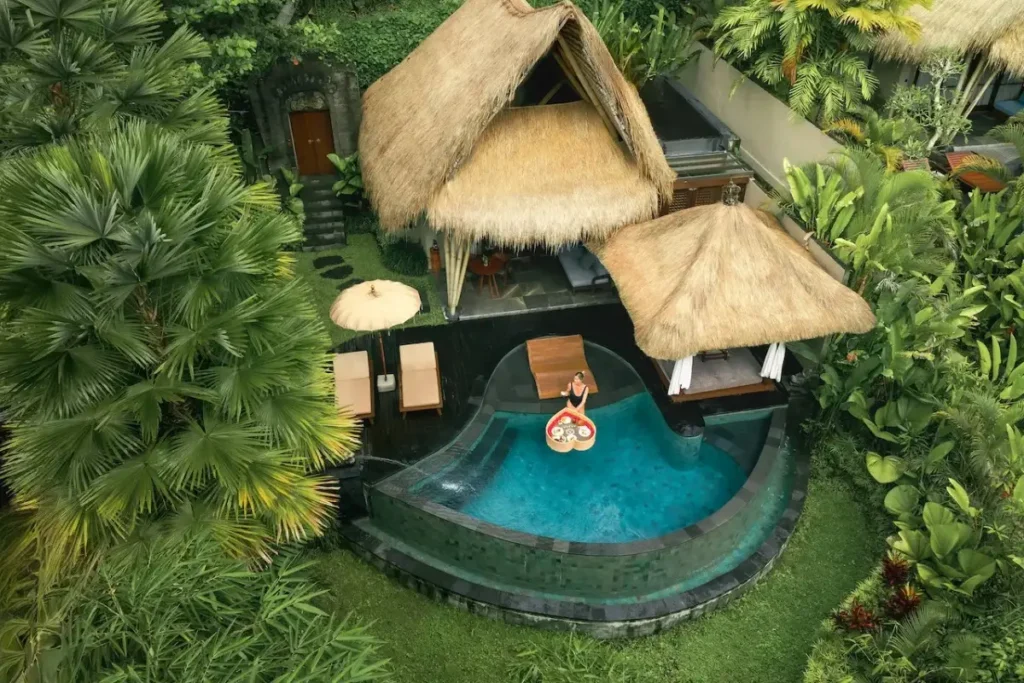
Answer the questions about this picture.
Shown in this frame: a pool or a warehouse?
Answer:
pool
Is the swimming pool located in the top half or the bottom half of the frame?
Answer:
bottom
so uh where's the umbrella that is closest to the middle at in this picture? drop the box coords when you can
[328,273,422,389]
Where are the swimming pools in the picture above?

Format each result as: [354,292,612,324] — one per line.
[337,336,810,637]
